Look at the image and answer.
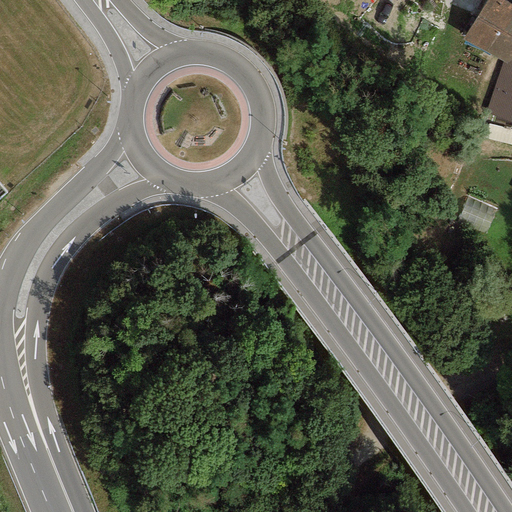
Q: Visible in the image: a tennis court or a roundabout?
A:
roundabout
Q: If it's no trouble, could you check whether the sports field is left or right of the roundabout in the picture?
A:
to its left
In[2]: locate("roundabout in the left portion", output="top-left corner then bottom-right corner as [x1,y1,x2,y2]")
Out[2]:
[122,42,274,194]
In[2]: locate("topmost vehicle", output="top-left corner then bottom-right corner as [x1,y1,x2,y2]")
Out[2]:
[380,2,394,22]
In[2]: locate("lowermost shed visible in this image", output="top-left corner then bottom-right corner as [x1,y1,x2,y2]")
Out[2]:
[460,194,498,232]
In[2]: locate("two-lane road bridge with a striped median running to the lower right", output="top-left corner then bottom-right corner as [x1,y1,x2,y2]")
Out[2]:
[258,198,512,512]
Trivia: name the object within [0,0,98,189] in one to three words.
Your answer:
sports field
